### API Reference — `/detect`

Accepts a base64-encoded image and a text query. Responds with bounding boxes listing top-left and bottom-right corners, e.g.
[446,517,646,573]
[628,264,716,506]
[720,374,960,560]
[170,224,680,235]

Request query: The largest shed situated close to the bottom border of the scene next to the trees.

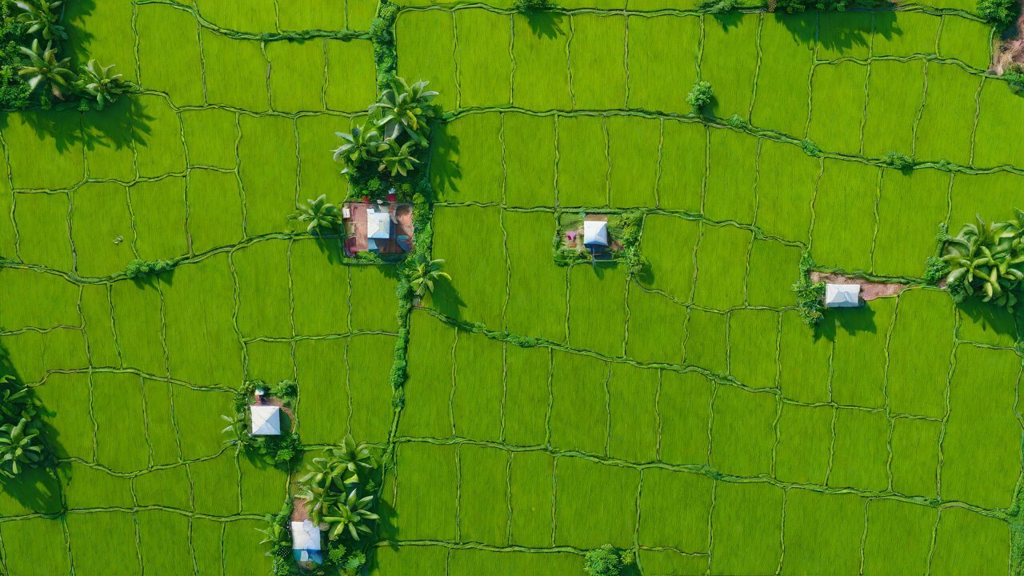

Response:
[292,521,323,563]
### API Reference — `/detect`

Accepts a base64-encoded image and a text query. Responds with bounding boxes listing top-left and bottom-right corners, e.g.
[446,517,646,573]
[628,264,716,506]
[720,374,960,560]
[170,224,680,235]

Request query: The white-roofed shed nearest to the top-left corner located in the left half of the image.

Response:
[367,209,389,249]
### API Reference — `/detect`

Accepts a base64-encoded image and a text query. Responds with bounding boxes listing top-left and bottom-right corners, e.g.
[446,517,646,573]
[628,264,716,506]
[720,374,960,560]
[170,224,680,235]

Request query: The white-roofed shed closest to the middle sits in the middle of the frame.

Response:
[584,221,608,248]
